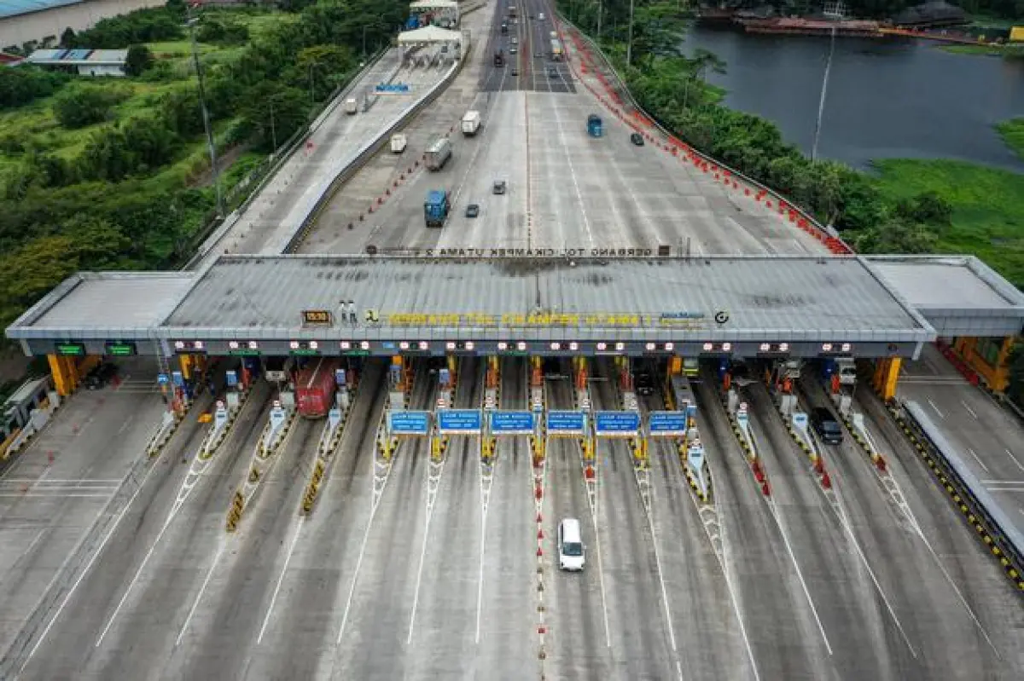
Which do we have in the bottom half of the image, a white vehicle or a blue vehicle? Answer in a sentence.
What appears in the bottom half of the image is a white vehicle.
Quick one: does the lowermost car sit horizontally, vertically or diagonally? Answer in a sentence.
From this overhead view, the lowermost car appears to run vertically.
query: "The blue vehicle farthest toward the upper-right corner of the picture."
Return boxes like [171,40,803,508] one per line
[586,113,601,135]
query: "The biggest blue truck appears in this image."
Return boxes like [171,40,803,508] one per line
[427,189,452,223]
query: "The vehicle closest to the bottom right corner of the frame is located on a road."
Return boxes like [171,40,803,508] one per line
[808,403,842,441]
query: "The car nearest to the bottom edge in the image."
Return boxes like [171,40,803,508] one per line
[558,517,586,570]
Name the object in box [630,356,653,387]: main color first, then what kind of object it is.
black car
